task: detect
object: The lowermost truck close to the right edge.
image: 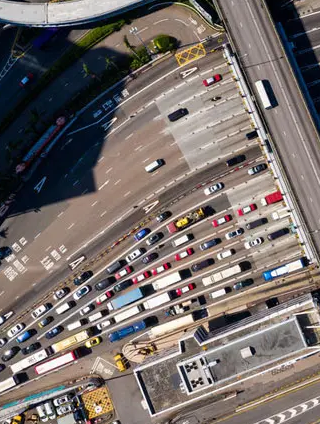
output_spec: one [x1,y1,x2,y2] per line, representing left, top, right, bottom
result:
[262,259,305,281]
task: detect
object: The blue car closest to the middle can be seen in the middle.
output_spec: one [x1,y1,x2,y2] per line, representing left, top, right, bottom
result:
[134,228,151,243]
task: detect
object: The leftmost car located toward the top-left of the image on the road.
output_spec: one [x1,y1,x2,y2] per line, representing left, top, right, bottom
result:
[19,71,35,89]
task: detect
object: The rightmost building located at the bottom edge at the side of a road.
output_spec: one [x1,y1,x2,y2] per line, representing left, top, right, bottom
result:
[134,292,320,416]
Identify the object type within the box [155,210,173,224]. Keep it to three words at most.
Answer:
car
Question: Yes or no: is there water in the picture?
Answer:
No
